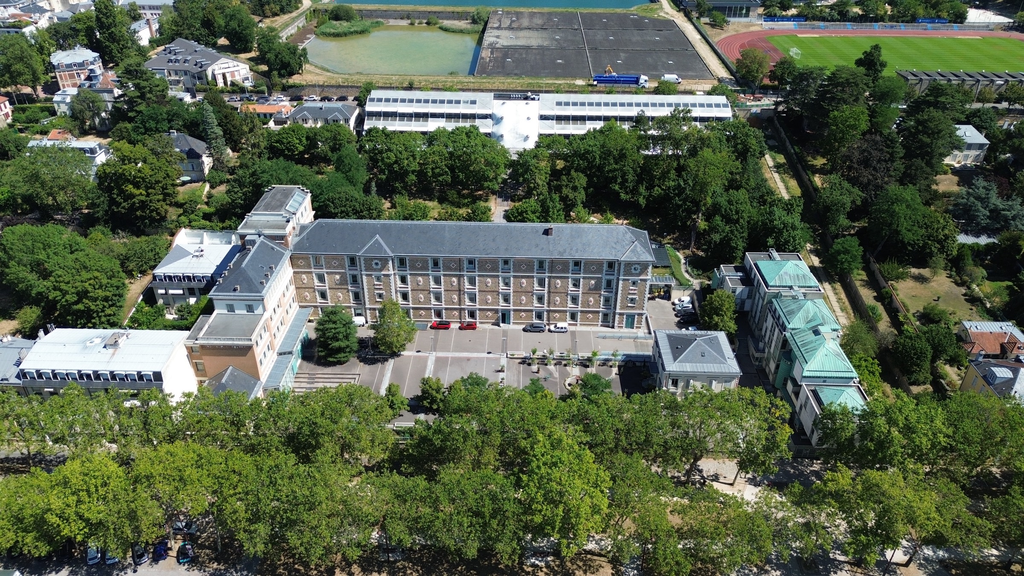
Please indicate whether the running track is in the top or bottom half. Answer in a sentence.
You can find the running track in the top half.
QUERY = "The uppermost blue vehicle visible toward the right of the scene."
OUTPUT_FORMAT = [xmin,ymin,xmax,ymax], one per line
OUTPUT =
[595,73,648,88]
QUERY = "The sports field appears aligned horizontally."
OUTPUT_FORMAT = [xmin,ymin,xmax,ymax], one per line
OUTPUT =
[769,36,1024,79]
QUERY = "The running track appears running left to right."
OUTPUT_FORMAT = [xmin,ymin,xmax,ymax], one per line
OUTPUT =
[720,29,1024,89]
